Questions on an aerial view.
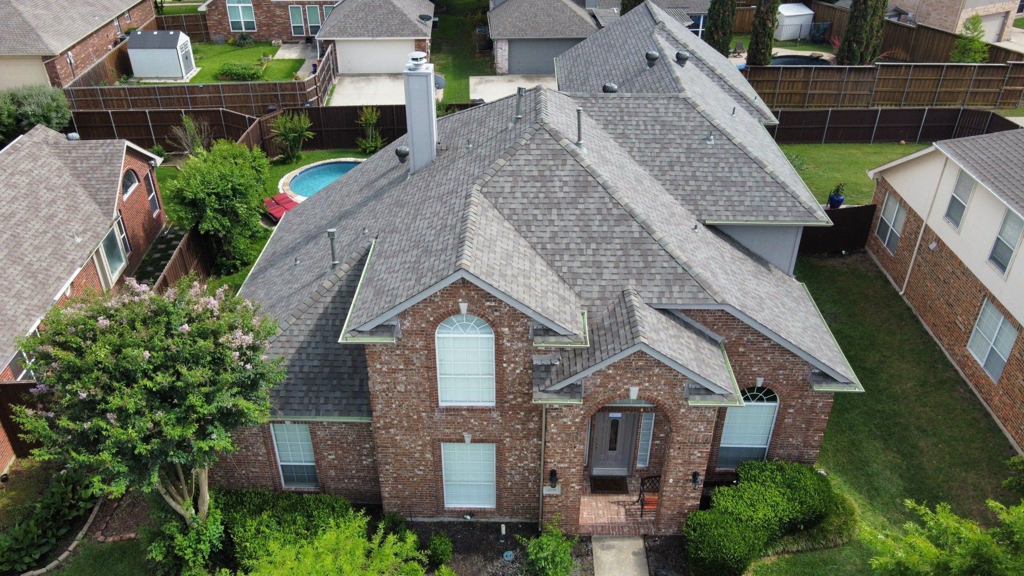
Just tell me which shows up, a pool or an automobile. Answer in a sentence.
I can see a pool in this picture.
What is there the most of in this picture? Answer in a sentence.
The largest share of the image is taken up by buildings.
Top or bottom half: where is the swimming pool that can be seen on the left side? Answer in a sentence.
It is in the top half that the swimming pool that can be seen on the left side appears.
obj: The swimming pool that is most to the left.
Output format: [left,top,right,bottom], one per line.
[279,156,372,198]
